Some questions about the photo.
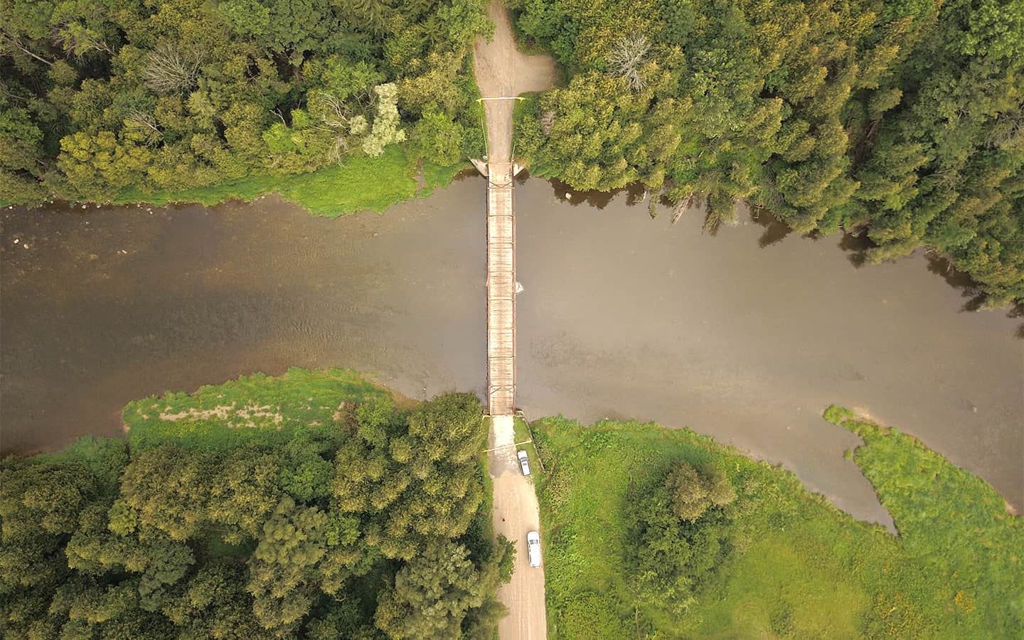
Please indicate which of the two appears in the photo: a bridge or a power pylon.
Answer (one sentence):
Looking from above, you can make out a bridge.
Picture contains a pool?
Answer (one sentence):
No, the frame has no pool in it.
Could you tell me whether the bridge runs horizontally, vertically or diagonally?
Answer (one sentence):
The bridge is laid out vertically.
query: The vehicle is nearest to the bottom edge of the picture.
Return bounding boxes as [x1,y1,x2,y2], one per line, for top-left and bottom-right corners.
[527,531,541,569]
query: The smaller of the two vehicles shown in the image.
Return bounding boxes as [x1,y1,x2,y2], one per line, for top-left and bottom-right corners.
[517,449,531,476]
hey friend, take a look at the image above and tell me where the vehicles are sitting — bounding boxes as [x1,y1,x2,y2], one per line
[517,449,531,476]
[527,531,541,569]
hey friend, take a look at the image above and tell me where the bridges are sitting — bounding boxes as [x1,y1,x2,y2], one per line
[473,158,525,418]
